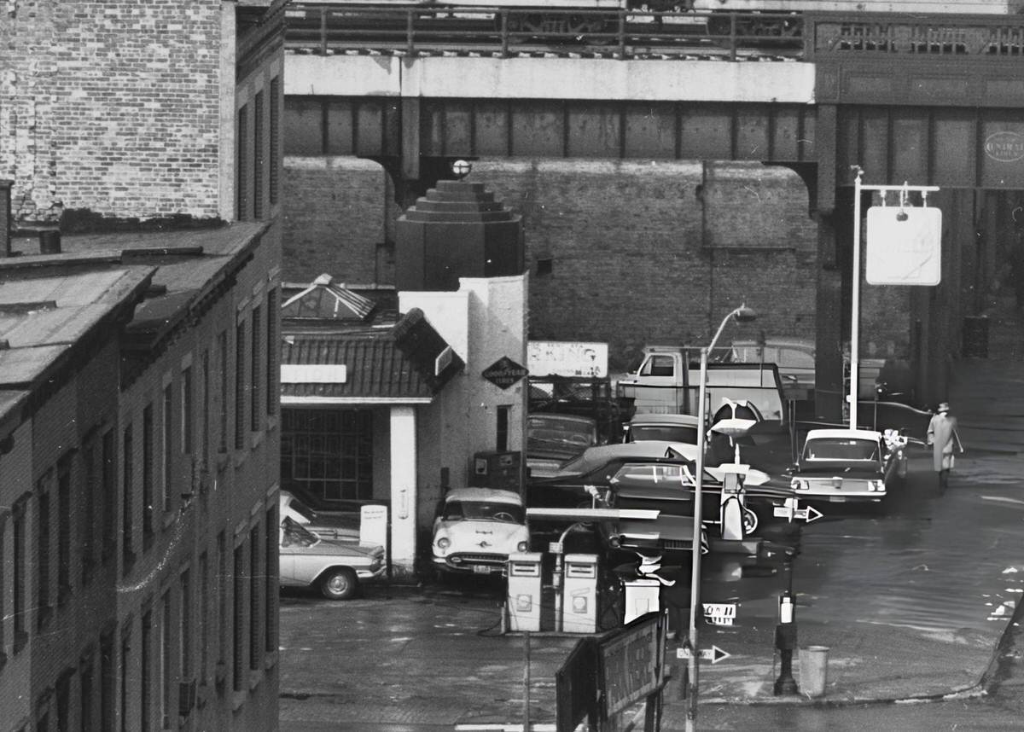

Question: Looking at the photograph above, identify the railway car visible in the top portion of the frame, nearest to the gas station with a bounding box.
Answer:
[280,0,646,39]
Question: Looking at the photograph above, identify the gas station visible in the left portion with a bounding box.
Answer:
[280,159,530,574]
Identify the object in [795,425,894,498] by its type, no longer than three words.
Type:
car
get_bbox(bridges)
[280,0,1024,419]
